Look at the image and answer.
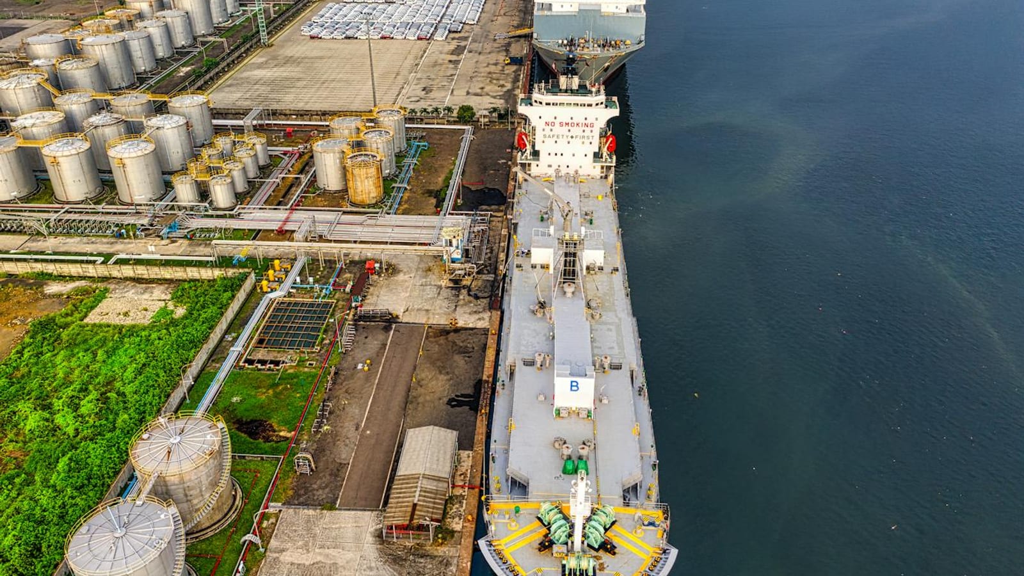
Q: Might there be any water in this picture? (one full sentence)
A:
Yes, the picture does contain water.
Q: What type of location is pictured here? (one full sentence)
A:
What you see here is an industrial area.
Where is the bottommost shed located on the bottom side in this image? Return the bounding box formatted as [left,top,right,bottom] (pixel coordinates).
[382,425,459,551]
